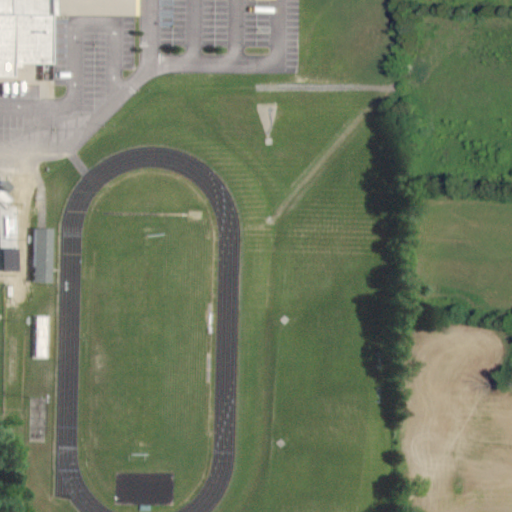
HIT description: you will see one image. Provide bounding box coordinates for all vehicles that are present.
[3,82,10,98]
[12,82,18,98]
[7,284,13,298]
[20,80,27,96]
[56,72,72,78]
[245,6,276,14]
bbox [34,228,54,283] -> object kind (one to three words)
building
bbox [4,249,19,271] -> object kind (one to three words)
building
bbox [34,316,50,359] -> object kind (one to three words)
shed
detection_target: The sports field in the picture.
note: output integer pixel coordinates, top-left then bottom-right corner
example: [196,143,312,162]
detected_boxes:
[78,168,220,512]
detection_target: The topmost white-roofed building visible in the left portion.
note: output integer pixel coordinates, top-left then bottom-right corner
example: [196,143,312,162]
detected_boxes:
[0,0,140,76]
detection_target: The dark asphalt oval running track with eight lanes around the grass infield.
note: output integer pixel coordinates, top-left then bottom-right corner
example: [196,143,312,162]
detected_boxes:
[55,146,242,512]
